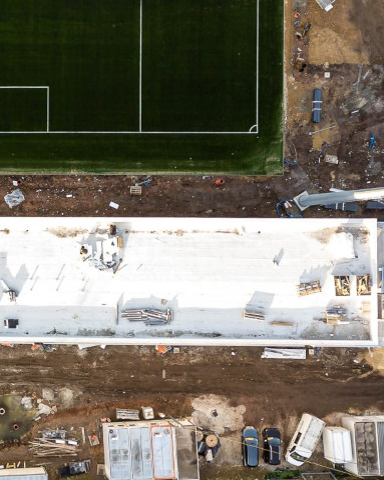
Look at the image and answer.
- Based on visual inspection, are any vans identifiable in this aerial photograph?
Yes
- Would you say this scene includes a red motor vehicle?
No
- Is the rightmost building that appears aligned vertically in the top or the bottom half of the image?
bottom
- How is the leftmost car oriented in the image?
vertically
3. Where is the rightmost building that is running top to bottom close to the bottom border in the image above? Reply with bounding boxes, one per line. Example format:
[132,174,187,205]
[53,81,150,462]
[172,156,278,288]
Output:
[168,420,199,480]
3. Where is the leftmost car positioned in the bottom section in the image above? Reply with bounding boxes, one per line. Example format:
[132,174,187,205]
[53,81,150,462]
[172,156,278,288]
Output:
[240,425,262,467]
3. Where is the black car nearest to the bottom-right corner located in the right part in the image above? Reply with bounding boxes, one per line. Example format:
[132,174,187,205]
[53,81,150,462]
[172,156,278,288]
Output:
[263,427,284,464]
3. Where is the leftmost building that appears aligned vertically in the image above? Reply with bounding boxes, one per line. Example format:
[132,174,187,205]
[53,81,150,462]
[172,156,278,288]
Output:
[105,421,133,480]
